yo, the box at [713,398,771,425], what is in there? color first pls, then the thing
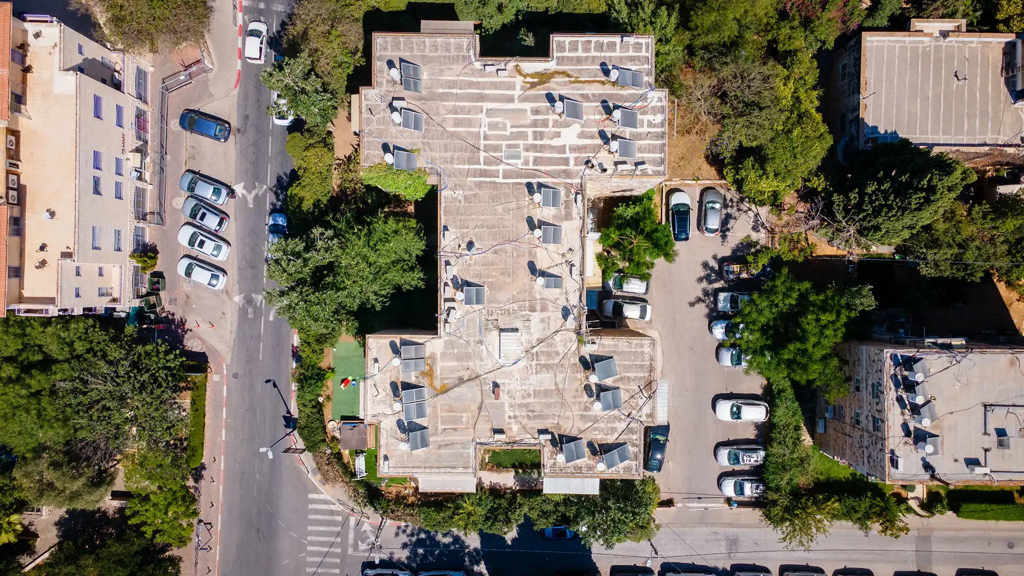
white car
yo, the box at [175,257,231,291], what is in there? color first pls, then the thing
white car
